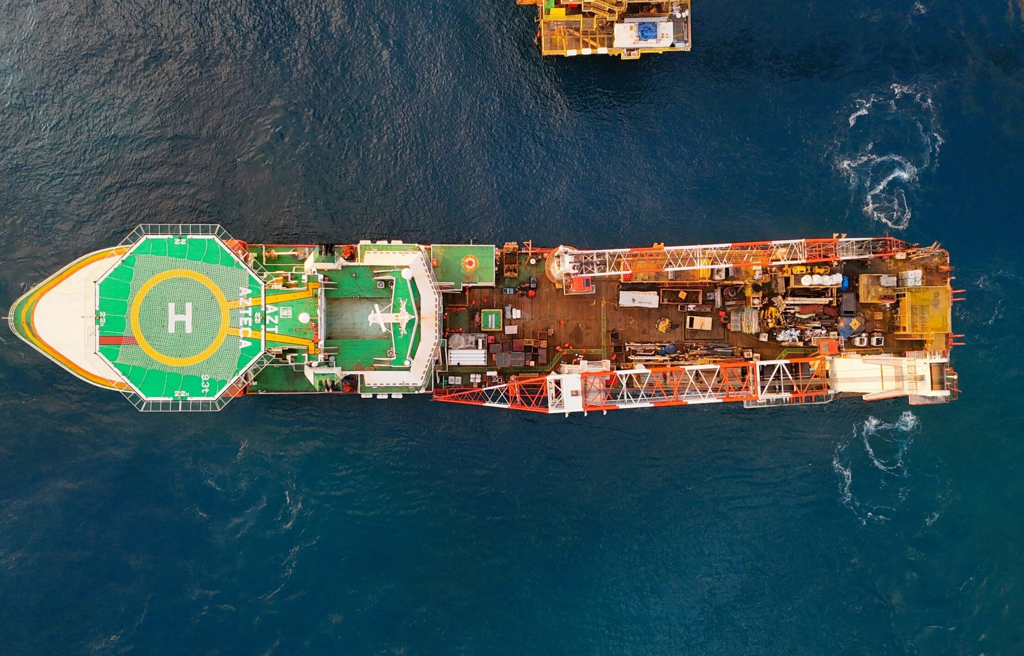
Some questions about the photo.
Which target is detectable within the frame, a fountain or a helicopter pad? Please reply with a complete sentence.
This aerial view contains a helicopter pad.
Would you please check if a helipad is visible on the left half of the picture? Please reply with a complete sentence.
Yes, a helipad can be seen on the left half of the picture.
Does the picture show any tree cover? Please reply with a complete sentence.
No, there's no tree cover in this view.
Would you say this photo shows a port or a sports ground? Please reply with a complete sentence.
What you see here is a port.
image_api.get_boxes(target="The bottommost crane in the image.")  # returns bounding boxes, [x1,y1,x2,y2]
[431,336,963,416]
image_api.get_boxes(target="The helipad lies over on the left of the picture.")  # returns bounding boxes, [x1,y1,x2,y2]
[81,224,275,412]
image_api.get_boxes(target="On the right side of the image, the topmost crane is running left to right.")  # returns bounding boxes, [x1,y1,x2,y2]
[545,231,920,295]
